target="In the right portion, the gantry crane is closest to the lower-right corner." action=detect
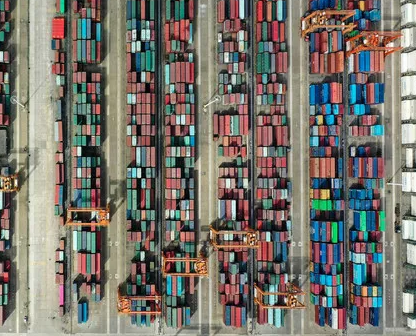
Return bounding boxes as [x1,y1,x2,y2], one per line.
[253,282,305,309]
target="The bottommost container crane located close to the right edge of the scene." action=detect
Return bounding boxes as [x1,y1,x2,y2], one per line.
[346,32,402,58]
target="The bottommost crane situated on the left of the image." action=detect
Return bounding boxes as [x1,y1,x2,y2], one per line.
[117,286,162,315]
